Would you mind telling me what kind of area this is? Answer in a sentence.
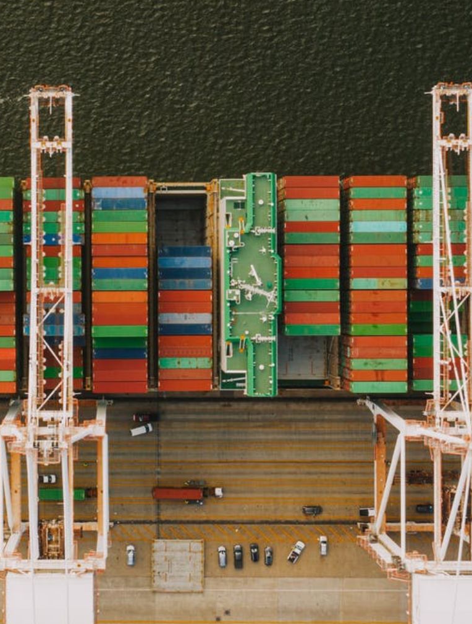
It's a port.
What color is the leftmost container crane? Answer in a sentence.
The color of the leftmost container crane is white.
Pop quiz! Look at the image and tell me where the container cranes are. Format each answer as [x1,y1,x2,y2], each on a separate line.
[0,82,112,624]
[353,81,472,624]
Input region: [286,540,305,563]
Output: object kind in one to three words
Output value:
vehicle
